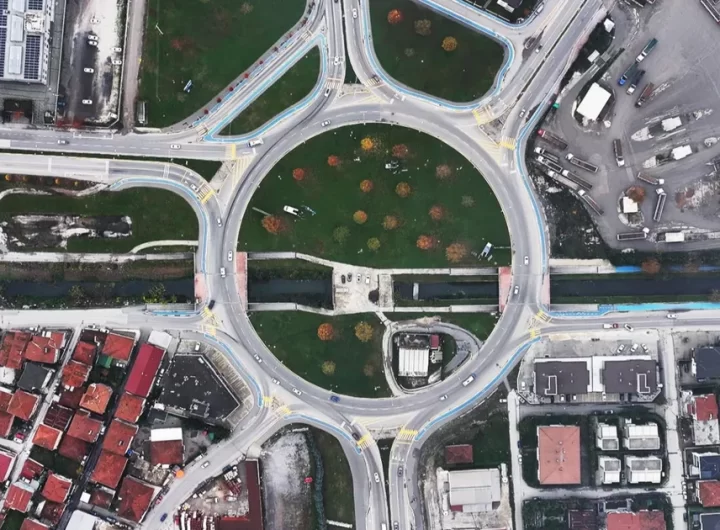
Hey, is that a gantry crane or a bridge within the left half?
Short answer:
bridge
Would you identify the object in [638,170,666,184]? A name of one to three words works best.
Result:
vehicle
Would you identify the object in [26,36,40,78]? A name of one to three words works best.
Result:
solar array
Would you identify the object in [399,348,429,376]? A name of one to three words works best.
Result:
building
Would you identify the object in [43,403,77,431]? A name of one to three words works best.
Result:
house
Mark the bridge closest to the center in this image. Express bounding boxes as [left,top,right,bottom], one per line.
[333,263,396,315]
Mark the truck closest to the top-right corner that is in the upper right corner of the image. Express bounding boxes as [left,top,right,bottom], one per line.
[635,35,662,63]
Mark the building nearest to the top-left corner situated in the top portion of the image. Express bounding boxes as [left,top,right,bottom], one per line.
[0,0,53,84]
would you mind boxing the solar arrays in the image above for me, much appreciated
[26,36,40,78]
[0,28,6,77]
[0,0,8,25]
[29,0,42,10]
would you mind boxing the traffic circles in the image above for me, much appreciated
[207,93,541,429]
